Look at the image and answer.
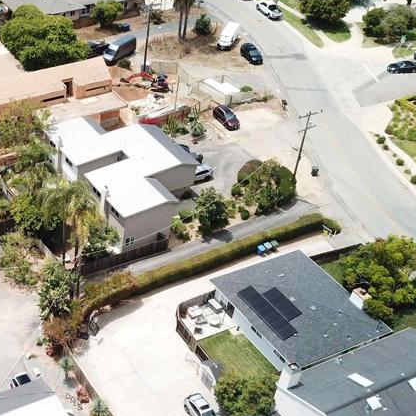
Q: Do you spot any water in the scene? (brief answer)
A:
No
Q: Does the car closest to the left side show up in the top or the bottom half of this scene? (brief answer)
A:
bottom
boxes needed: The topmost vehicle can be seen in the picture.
[253,2,286,21]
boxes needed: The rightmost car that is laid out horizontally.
[385,60,416,76]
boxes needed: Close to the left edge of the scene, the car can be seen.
[5,365,31,389]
